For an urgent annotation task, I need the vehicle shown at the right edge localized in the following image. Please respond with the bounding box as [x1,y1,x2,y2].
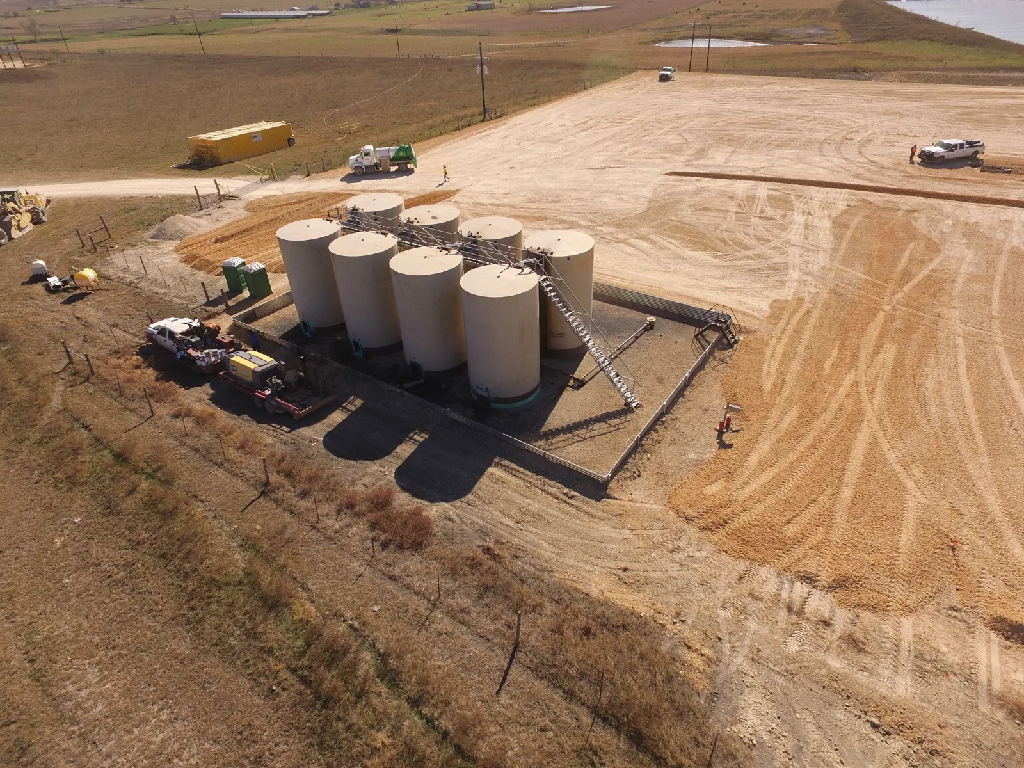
[916,137,987,164]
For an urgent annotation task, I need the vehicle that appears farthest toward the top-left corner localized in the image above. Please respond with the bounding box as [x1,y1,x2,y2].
[0,191,53,250]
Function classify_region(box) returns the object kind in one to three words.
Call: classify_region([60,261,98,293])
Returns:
storage tank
